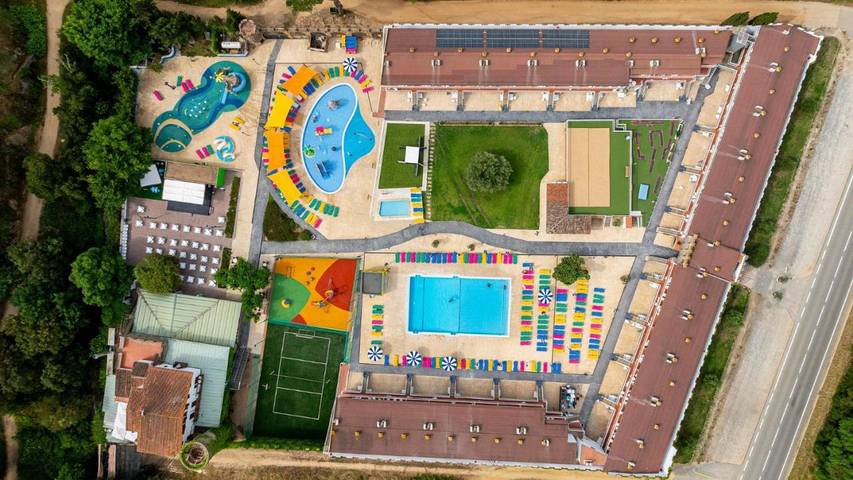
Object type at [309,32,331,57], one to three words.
shed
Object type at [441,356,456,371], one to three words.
umbrella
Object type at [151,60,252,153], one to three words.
swimming pool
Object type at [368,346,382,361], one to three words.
umbrella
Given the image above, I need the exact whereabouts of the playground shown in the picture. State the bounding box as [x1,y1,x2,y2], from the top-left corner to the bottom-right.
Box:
[269,258,357,331]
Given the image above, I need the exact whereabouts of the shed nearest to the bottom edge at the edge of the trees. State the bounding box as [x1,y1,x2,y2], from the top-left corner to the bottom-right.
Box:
[116,444,149,480]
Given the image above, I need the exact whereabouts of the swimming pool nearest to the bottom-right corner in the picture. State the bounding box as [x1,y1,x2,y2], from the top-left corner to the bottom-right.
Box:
[406,274,512,338]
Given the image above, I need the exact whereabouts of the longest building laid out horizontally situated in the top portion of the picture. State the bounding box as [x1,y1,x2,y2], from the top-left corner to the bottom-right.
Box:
[380,24,734,93]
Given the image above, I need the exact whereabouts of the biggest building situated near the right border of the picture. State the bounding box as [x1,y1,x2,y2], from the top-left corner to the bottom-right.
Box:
[600,22,826,478]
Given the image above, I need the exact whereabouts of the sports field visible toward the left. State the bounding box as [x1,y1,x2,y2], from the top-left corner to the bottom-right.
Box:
[253,322,347,441]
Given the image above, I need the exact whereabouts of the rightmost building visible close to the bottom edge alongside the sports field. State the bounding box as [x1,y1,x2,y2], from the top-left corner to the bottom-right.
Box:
[327,390,578,468]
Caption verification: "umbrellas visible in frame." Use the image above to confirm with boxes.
[441,356,456,371]
[407,351,422,366]
[538,288,552,303]
[368,346,382,361]
[343,58,358,72]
